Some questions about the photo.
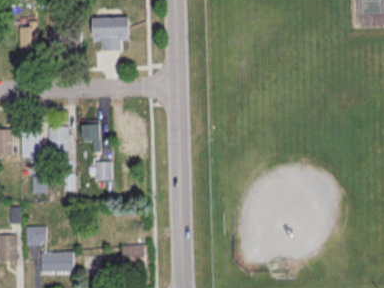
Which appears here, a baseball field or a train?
baseball field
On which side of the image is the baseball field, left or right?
right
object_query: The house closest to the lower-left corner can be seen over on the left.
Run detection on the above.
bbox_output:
[0,235,18,264]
